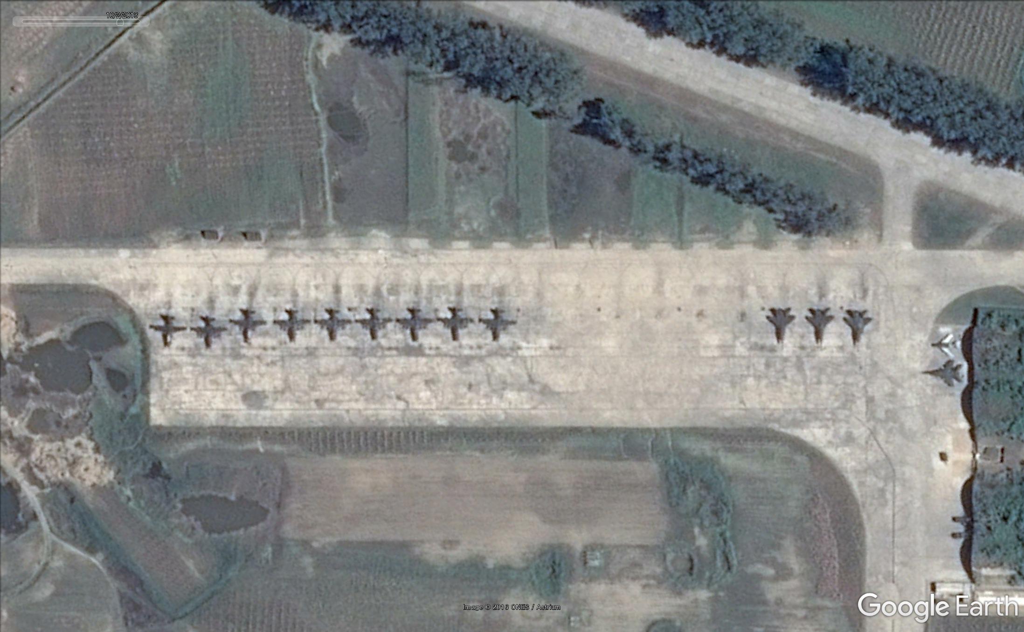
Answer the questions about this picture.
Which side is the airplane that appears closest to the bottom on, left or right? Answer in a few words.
right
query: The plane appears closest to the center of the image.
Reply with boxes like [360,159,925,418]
[479,308,513,343]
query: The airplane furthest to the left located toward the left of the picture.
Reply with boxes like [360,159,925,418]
[151,313,185,348]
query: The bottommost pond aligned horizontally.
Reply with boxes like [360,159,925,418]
[179,495,273,535]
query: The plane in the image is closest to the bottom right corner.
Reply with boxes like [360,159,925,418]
[923,360,960,387]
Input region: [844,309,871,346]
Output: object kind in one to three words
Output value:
airplane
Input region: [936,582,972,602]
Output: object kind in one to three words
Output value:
building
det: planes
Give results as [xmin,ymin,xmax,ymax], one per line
[151,313,185,348]
[275,308,309,341]
[479,308,513,343]
[230,309,264,341]
[399,308,433,343]
[358,307,392,340]
[932,334,959,356]
[806,307,833,345]
[192,314,226,347]
[767,307,794,347]
[844,309,871,346]
[439,307,473,340]
[316,308,350,341]
[923,360,960,387]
